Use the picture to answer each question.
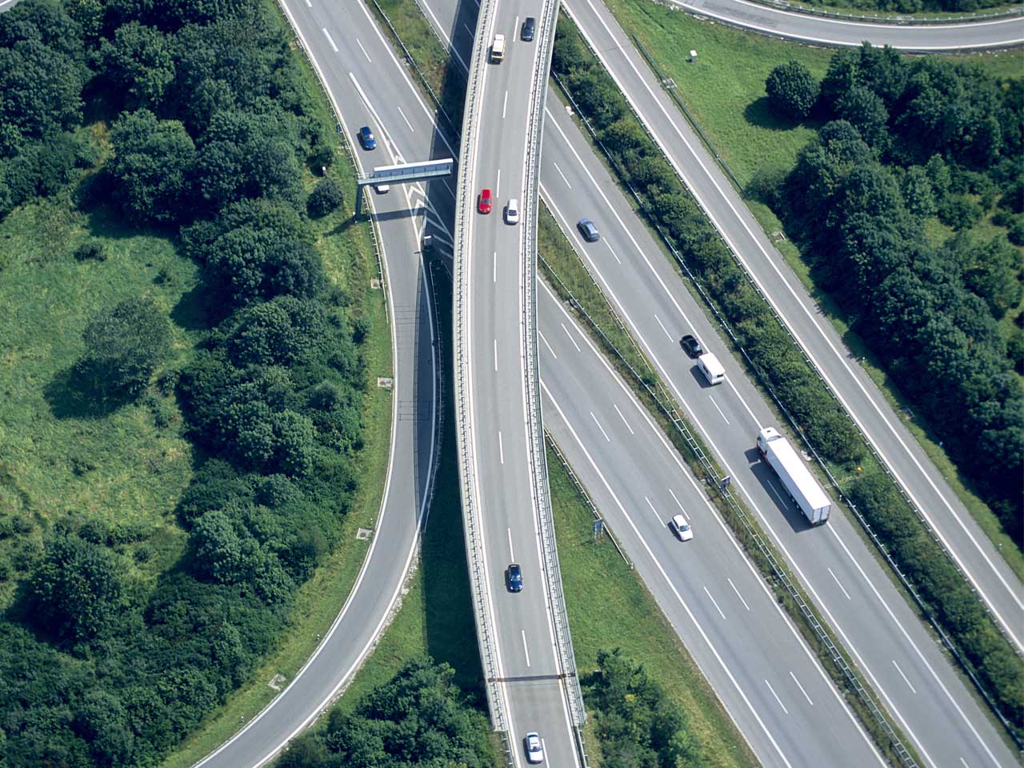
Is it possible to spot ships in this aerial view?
No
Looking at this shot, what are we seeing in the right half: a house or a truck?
truck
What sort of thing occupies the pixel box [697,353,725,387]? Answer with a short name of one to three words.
camper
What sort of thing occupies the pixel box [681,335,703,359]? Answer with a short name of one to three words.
car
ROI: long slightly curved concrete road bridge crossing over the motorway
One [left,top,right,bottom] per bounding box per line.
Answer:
[453,0,585,741]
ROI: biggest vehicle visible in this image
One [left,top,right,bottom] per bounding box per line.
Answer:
[758,431,830,525]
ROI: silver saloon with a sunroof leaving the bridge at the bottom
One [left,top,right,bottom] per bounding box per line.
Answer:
[525,733,543,763]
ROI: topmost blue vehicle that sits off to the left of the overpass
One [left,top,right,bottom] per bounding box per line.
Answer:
[360,127,376,150]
